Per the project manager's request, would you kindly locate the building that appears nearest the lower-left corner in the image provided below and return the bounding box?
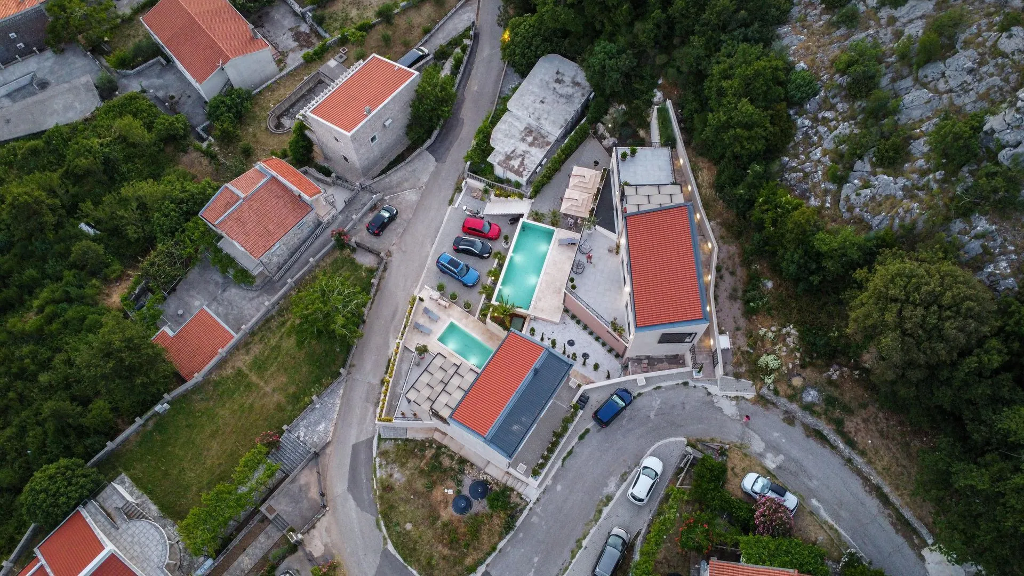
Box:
[15,504,154,576]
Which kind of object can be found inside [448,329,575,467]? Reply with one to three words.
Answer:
house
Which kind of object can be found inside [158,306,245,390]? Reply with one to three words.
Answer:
shed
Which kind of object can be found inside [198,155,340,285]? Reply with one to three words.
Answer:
house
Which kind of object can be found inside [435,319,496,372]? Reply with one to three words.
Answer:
swimming pool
